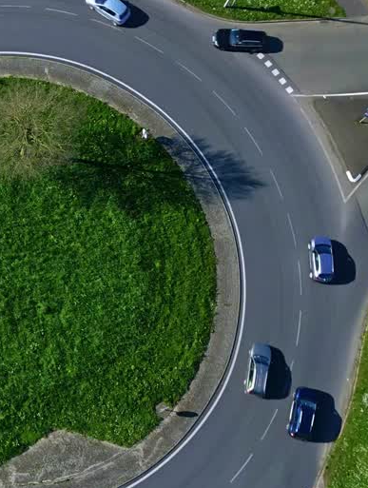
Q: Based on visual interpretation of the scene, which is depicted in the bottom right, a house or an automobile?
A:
automobile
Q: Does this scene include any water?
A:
No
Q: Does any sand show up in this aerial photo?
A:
No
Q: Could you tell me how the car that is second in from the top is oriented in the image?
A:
from left to right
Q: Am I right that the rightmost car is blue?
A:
Yes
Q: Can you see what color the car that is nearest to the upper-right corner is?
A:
black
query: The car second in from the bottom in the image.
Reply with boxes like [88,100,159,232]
[244,342,275,396]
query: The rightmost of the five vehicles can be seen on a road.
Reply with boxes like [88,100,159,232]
[308,234,337,282]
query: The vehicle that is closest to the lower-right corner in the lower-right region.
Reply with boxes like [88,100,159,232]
[286,386,319,440]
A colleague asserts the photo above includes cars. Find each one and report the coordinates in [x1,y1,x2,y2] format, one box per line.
[286,386,319,440]
[244,342,275,396]
[308,234,337,282]
[85,0,131,26]
[212,25,266,51]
